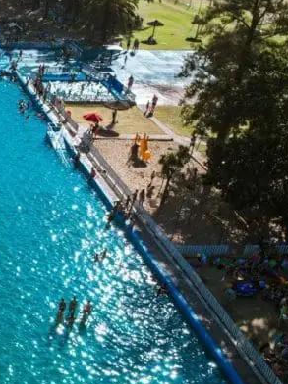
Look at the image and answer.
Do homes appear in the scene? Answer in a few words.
No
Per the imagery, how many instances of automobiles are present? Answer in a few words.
0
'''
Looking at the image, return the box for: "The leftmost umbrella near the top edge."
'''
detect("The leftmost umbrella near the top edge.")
[142,16,170,40]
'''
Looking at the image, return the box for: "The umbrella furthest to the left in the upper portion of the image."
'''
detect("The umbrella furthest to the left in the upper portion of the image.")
[83,108,115,134]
